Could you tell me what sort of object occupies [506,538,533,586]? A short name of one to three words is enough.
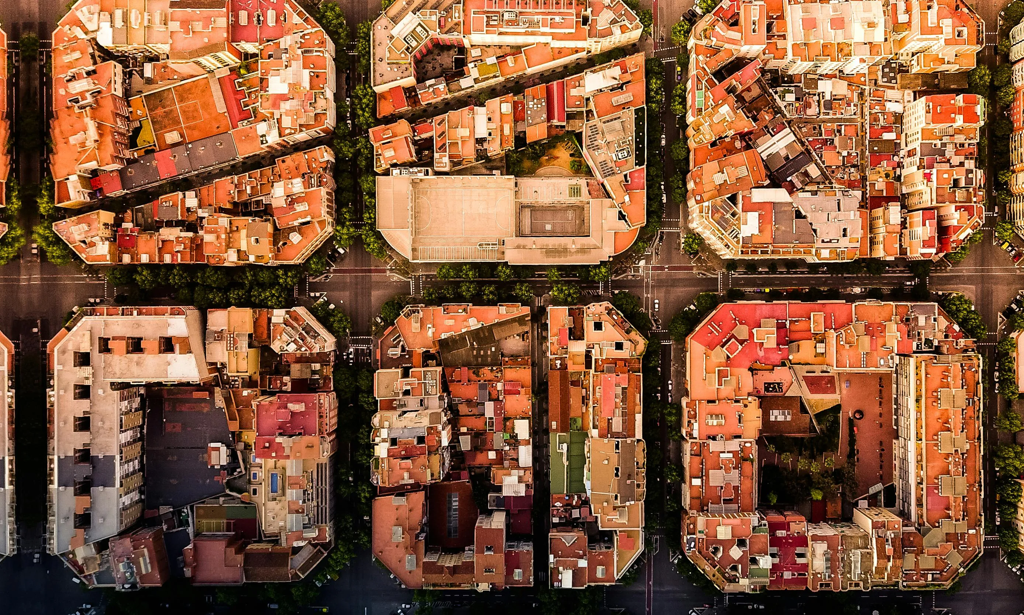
building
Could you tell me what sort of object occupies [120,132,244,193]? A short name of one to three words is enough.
building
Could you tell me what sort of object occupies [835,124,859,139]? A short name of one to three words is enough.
house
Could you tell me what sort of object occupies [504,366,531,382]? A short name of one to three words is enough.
house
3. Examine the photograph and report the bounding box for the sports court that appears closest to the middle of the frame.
[410,176,514,263]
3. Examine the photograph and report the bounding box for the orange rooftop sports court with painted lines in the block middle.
[143,78,232,151]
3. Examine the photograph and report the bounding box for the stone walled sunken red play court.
[788,366,841,398]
